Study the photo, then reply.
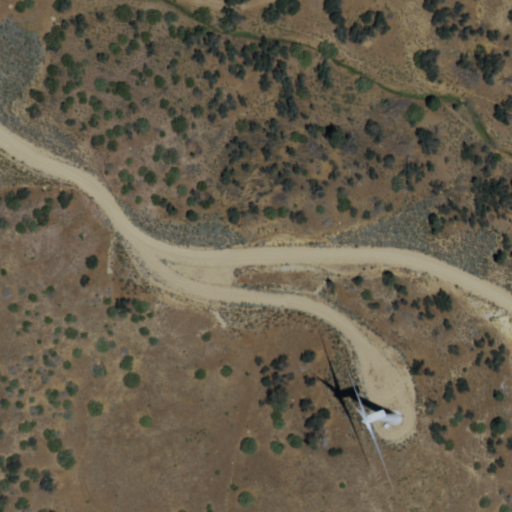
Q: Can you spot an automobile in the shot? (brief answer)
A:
No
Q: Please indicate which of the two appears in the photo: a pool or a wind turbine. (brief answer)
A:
wind turbine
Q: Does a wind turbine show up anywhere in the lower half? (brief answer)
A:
Yes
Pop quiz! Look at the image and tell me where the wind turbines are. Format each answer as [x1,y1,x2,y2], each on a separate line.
[345,360,403,492]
